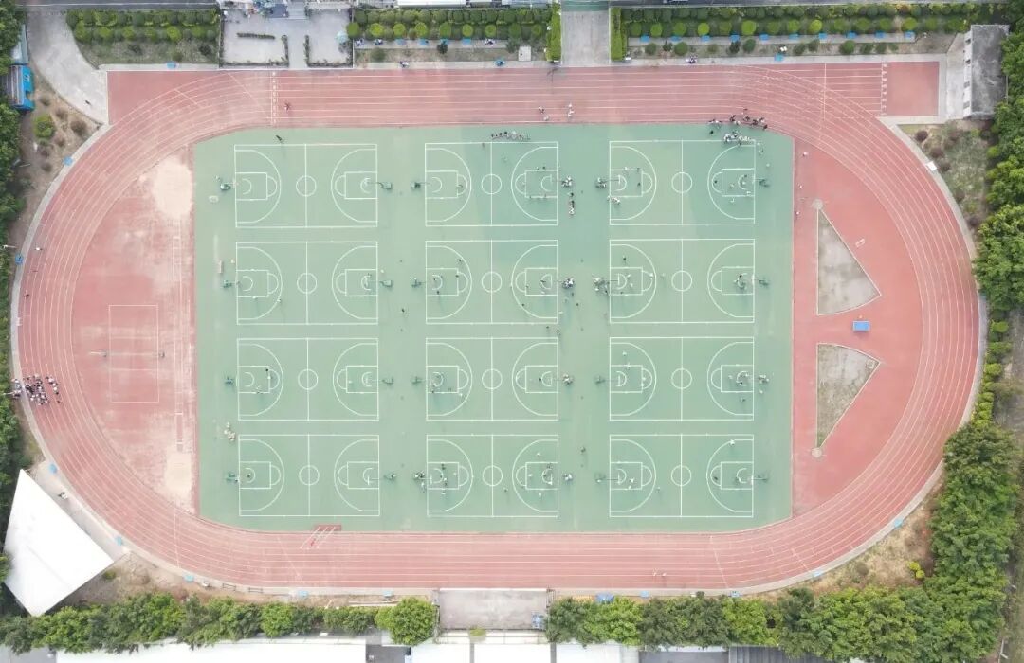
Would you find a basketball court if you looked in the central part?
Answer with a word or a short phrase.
Yes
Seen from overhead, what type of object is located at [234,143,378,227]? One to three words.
basketball court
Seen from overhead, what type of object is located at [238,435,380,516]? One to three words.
basketball court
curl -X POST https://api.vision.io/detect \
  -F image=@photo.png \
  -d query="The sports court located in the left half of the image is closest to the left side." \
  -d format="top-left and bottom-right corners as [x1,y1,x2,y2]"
[109,305,159,402]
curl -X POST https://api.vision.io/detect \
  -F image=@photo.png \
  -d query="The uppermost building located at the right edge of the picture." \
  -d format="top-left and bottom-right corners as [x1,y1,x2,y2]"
[964,23,1010,116]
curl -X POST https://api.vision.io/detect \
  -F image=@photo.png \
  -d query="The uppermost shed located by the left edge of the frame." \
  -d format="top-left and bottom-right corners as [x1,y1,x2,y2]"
[12,24,36,66]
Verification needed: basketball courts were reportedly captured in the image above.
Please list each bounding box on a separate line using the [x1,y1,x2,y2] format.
[238,435,380,516]
[425,141,558,226]
[609,239,755,323]
[426,338,558,421]
[609,434,754,517]
[425,239,558,324]
[234,143,378,227]
[427,434,558,517]
[237,338,379,421]
[236,240,378,324]
[609,337,754,421]
[610,139,755,225]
